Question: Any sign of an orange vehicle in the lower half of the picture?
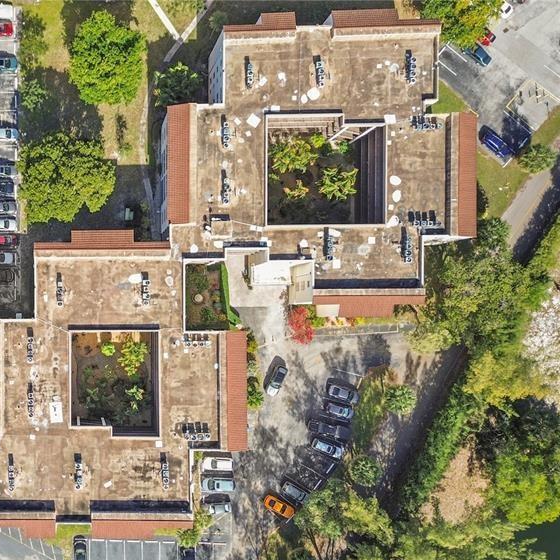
Yes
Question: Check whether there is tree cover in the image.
Yes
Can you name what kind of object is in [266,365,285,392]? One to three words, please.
car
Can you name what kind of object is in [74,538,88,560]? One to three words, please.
car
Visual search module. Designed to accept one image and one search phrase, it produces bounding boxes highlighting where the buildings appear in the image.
[159,6,480,318]
[0,228,248,541]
